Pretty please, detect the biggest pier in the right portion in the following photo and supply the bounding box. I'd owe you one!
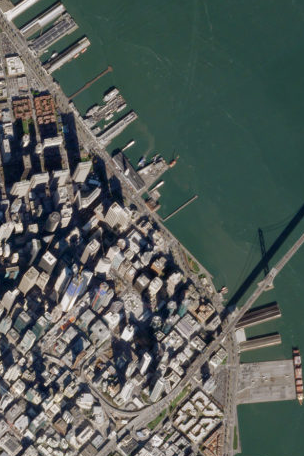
[237,359,296,404]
